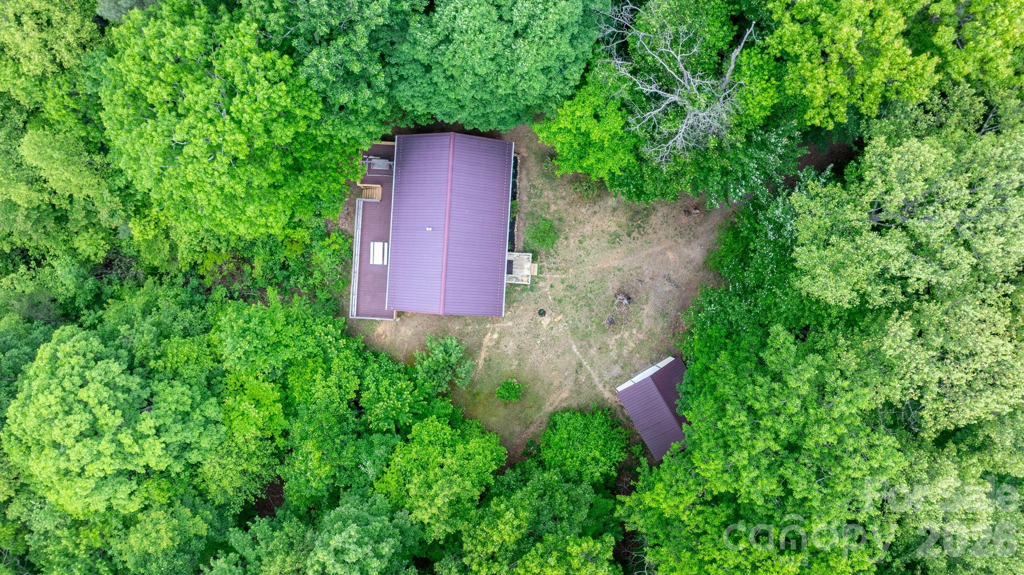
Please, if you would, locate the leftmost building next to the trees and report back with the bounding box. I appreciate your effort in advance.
[384,130,516,317]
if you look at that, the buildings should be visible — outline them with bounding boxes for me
[615,356,708,462]
[384,130,516,317]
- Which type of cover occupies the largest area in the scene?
trees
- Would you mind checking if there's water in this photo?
No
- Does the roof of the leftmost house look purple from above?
Yes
